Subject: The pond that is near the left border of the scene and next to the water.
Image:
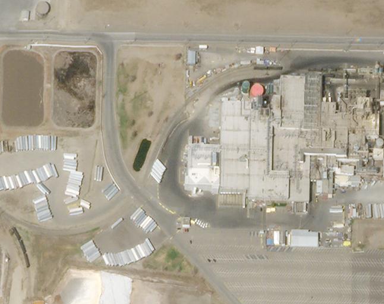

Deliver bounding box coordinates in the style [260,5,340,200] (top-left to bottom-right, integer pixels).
[1,51,45,126]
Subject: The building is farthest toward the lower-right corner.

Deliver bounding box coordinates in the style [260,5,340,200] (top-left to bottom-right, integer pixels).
[290,230,319,249]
